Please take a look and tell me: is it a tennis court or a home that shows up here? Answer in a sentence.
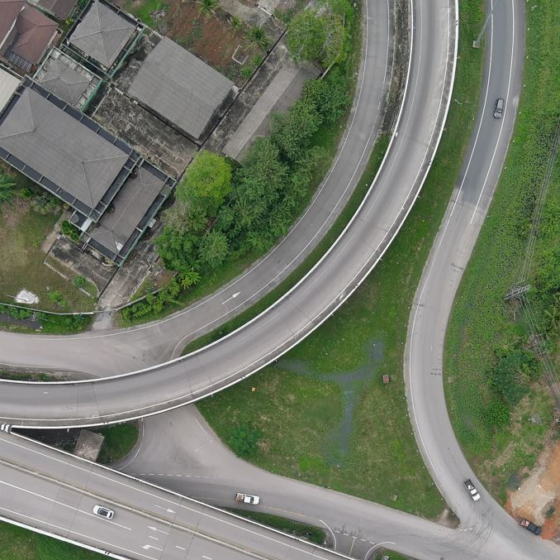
There is a home in the scene.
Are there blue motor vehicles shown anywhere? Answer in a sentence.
No, no blue motor vehicle can be seen from above.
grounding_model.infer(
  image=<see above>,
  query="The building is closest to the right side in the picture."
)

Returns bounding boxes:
[128,38,236,139]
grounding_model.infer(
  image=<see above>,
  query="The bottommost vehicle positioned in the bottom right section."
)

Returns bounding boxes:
[515,517,543,536]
